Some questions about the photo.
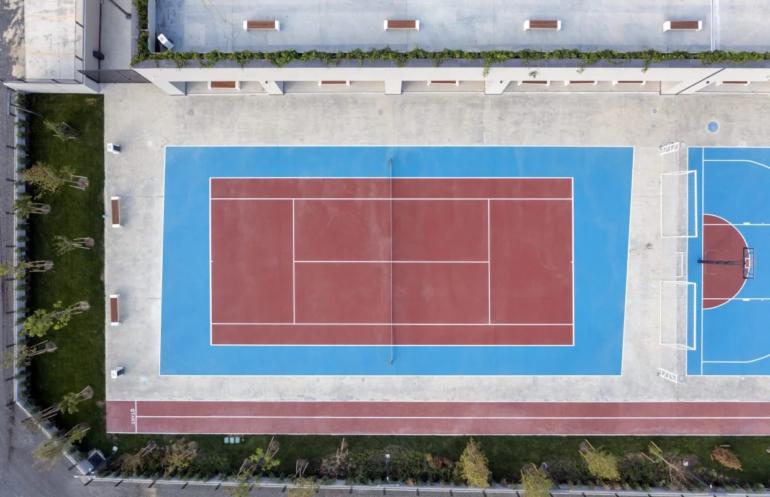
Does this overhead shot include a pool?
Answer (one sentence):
No, the photo shows no pool.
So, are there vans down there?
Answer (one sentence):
No, there appears to be no van in this shot.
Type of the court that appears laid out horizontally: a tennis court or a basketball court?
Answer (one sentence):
Looking closely, the court that appears laid out horizontally is a tennis court.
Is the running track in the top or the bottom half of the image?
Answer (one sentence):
The running track is in the bottom half of the image.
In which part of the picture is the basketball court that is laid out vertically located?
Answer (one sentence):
You can find the basketball court that is laid out vertically in the right area of the picture.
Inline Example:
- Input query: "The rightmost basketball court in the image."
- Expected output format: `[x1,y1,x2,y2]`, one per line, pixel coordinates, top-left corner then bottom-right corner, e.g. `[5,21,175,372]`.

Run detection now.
[676,147,770,377]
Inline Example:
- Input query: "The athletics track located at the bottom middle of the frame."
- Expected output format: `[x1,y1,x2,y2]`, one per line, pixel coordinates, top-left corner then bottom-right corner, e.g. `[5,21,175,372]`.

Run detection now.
[107,401,770,436]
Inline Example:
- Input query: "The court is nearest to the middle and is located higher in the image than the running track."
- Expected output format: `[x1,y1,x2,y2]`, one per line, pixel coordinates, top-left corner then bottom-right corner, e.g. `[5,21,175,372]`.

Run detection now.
[159,146,634,376]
